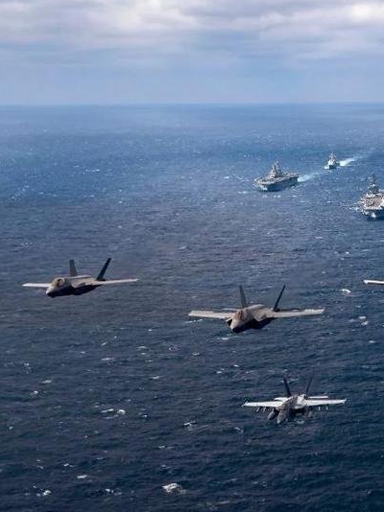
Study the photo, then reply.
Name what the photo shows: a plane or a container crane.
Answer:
plane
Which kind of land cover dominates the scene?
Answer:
water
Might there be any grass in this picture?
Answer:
No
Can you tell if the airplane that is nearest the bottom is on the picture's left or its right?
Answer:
right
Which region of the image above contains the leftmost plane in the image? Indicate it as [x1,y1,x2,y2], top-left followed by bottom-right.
[23,256,145,300]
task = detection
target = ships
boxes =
[361,178,384,220]
[328,152,342,168]
[257,163,298,191]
